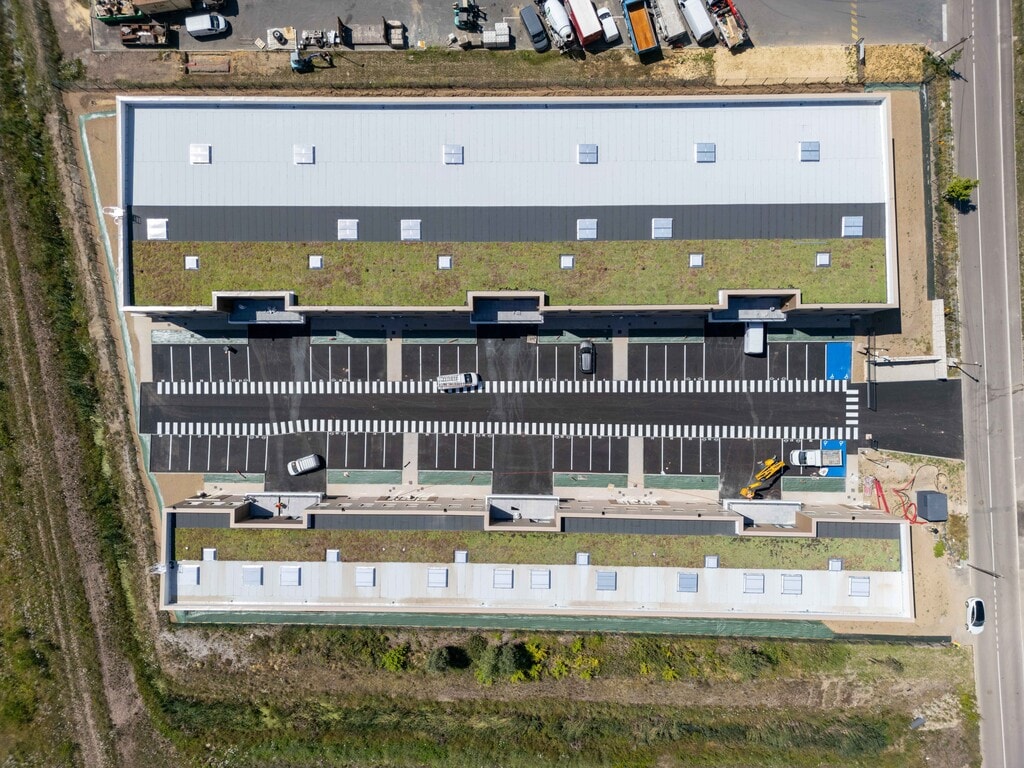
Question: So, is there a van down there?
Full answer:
Yes, I can see a van in this picture.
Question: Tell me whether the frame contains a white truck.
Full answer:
Yes, I can see a white truck in this picture.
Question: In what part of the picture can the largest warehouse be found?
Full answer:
The largest warehouse is located in the top region of the scene.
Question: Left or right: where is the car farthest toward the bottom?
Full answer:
The car farthest toward the bottom appears in the right half of the scene.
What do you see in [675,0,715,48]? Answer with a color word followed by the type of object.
white truck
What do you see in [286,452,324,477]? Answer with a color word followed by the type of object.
white vehicle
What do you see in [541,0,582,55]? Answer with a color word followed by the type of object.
white truck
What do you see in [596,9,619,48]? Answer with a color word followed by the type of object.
white vehicle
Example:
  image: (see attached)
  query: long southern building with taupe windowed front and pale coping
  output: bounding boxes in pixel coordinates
[142,491,916,622]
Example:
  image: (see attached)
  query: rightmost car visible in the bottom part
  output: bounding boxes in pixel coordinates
[964,597,986,633]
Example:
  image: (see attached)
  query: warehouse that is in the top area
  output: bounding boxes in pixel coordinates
[100,92,899,324]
